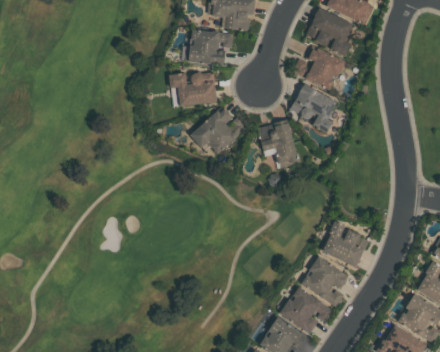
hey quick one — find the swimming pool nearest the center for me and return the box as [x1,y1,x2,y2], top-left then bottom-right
[244,148,260,172]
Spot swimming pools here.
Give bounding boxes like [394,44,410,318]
[244,148,260,172]
[391,298,404,318]
[427,222,440,237]
[304,126,334,146]
[170,32,186,52]
[342,76,356,94]
[164,123,187,142]
[252,324,266,340]
[186,0,204,18]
